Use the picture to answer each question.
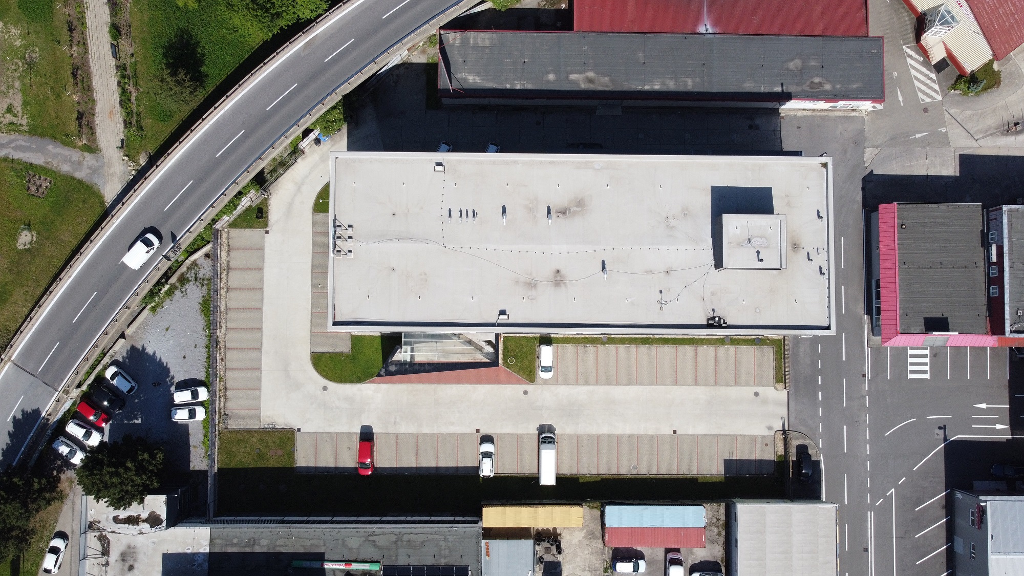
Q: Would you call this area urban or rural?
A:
urban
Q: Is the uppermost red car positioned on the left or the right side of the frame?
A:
left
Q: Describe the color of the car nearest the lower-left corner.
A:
white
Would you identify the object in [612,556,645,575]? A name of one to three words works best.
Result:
car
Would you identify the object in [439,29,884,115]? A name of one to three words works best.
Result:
building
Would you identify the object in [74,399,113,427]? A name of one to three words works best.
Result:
car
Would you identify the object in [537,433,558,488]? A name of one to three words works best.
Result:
truck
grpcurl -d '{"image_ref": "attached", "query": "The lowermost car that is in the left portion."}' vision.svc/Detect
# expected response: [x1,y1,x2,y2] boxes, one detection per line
[42,532,70,573]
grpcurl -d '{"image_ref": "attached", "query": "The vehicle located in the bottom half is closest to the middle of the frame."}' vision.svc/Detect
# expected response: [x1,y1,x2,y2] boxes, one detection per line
[538,344,555,379]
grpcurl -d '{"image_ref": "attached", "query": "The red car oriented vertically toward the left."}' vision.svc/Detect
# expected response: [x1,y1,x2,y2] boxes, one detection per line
[357,440,374,475]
